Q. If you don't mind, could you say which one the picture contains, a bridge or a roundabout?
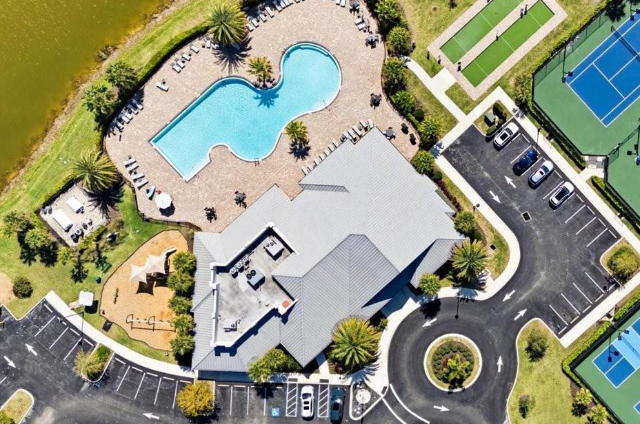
roundabout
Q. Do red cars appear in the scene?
No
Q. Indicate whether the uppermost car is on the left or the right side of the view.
right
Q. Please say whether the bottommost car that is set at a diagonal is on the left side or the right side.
right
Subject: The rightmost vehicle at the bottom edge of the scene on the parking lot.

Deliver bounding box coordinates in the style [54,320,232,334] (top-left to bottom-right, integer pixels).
[330,390,344,421]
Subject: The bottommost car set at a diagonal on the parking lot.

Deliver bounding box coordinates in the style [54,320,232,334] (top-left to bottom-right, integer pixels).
[548,182,575,207]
